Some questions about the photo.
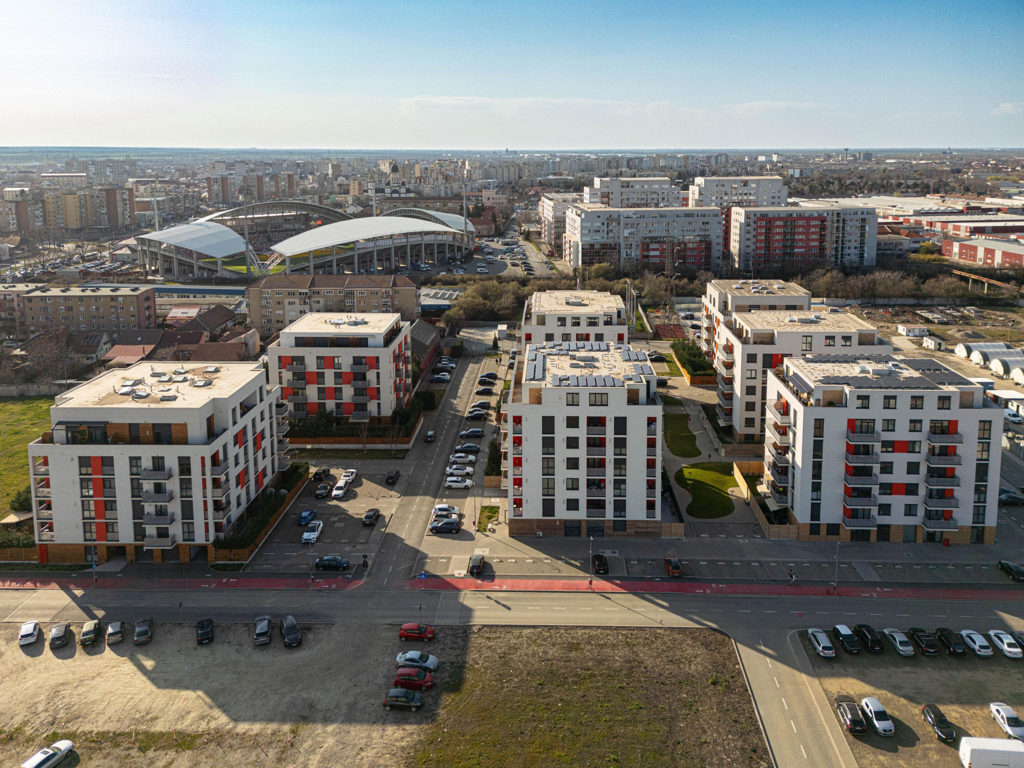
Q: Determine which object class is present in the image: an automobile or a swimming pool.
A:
automobile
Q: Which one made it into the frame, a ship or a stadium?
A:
stadium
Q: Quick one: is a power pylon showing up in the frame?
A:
Yes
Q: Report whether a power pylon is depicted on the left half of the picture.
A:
No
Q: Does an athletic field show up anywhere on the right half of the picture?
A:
No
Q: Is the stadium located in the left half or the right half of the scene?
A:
left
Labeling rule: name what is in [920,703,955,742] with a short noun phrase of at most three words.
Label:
car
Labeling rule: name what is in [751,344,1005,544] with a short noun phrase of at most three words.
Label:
building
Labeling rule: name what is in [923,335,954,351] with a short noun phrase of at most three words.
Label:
shed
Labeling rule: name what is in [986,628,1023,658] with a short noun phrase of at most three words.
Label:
car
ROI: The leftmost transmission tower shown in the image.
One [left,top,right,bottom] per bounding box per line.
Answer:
[659,234,685,315]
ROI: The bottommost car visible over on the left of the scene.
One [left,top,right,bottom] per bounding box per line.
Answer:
[17,737,81,768]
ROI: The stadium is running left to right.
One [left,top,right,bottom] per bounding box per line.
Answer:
[134,202,474,278]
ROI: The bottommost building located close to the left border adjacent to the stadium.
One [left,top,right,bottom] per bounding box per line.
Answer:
[29,362,296,562]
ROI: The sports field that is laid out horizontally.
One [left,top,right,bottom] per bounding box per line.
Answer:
[180,244,393,271]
